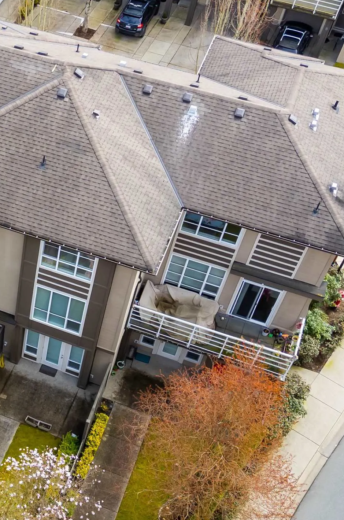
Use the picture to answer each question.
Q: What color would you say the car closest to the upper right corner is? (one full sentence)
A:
The car closest to the upper right corner is black.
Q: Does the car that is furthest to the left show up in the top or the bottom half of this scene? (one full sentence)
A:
The car that is furthest to the left is in the top half of the image.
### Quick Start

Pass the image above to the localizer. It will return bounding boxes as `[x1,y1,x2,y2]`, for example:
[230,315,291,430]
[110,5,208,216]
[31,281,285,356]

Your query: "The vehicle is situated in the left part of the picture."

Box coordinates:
[115,0,159,36]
